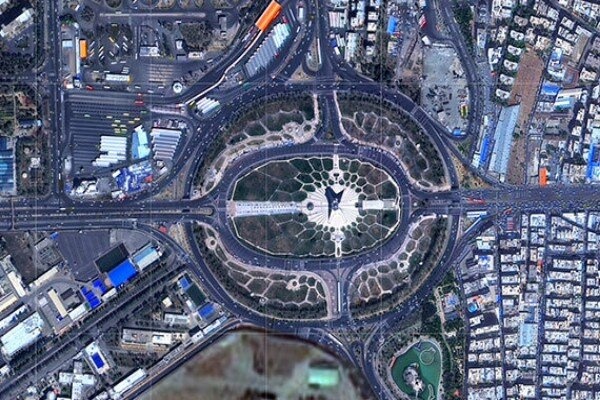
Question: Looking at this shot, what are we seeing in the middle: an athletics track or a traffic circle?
traffic circle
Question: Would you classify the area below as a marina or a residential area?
residential area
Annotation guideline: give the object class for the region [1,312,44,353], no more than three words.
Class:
building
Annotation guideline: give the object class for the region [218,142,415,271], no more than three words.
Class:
roundabout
